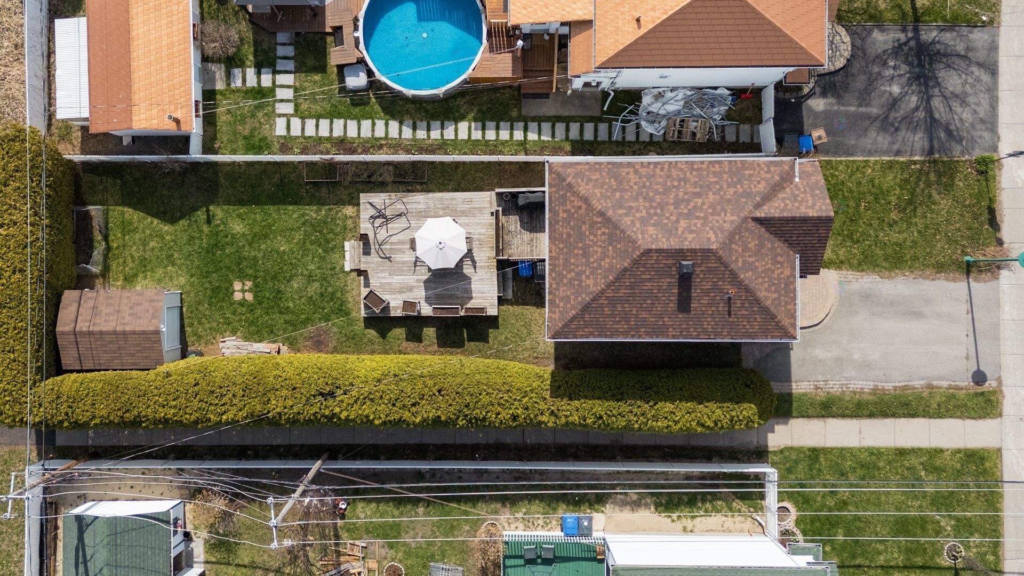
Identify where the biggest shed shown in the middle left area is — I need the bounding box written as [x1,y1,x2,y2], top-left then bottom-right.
[56,291,182,369]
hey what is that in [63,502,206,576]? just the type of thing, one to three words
shed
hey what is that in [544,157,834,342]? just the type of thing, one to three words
house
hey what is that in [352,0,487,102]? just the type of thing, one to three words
swimming pool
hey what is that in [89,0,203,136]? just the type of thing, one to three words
shed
